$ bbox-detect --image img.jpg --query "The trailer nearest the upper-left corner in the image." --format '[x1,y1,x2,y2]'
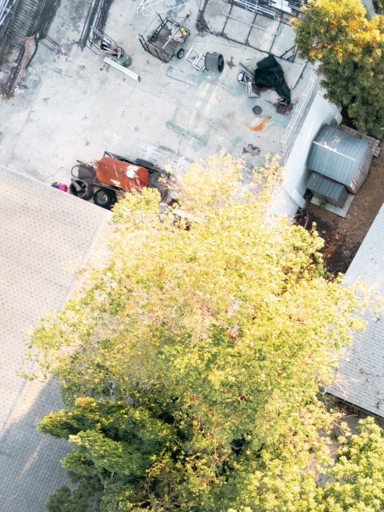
[128,3,192,59]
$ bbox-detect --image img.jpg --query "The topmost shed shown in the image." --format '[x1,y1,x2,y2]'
[301,106,375,190]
